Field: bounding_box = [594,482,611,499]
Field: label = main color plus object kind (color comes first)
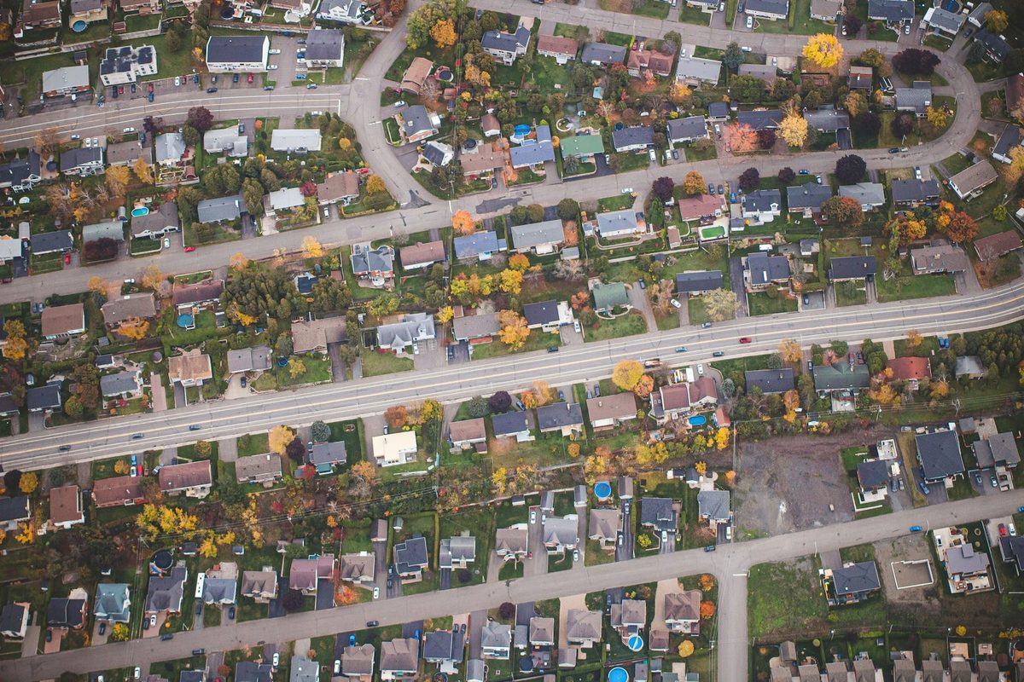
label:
blue swimming pool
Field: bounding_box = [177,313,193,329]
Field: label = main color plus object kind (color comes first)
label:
blue swimming pool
